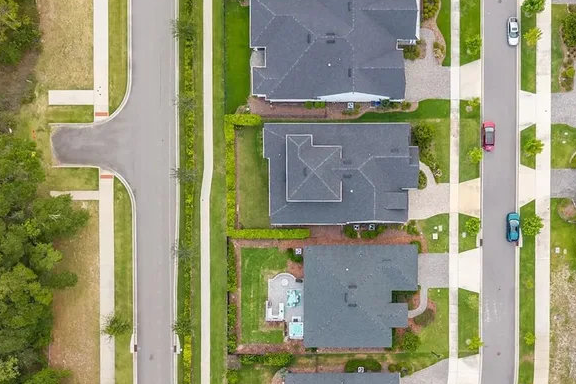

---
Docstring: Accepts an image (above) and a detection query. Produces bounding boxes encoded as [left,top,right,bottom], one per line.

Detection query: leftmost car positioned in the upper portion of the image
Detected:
[482,122,495,150]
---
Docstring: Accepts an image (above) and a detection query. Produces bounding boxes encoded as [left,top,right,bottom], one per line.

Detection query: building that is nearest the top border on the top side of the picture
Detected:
[250,0,420,101]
